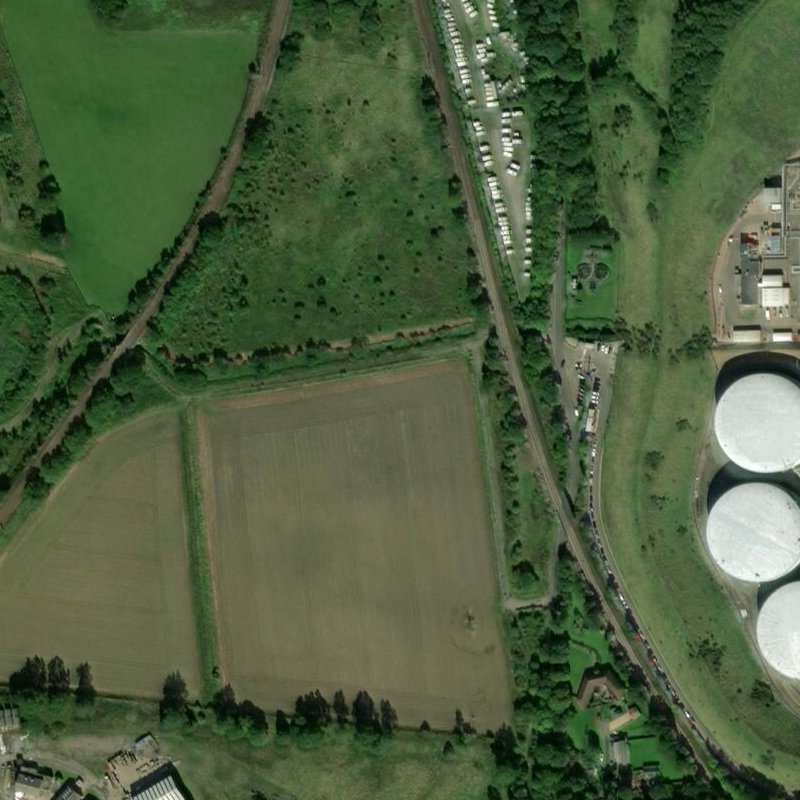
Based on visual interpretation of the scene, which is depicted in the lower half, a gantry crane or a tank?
tank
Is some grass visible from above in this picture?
Yes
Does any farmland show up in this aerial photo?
Yes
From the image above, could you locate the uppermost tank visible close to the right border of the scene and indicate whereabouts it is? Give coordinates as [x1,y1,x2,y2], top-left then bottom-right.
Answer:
[715,372,800,473]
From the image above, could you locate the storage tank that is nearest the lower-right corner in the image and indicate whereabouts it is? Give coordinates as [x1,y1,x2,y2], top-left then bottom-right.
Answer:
[755,581,800,681]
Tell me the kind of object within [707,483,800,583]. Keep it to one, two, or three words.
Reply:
storage tank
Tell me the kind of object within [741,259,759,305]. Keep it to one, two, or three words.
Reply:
shed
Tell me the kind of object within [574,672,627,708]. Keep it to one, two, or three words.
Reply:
house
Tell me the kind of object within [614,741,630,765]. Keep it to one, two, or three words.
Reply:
barn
